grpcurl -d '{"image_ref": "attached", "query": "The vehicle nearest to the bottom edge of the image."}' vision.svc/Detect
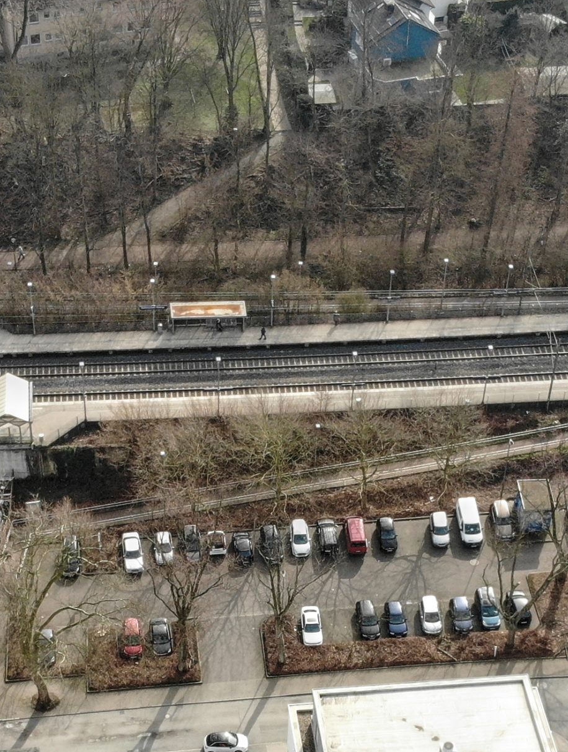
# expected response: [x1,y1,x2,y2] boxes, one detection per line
[201,730,248,752]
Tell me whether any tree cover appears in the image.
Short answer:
Yes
